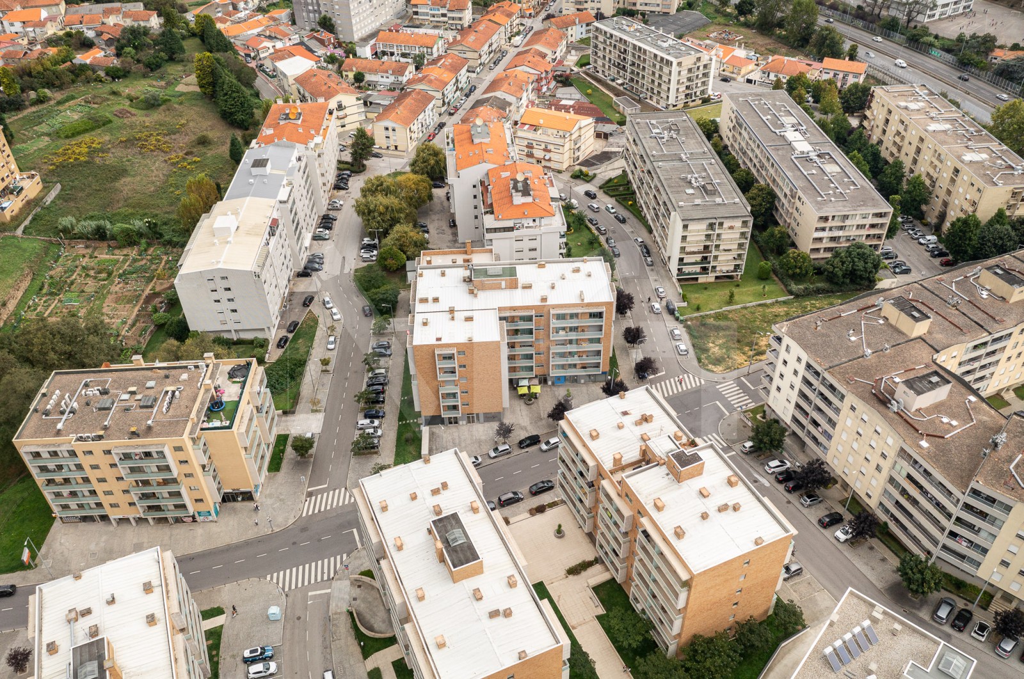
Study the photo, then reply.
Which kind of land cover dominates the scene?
buildings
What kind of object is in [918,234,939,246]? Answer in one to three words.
vehicle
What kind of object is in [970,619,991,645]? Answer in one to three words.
car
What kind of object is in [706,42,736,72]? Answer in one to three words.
house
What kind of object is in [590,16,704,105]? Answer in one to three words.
building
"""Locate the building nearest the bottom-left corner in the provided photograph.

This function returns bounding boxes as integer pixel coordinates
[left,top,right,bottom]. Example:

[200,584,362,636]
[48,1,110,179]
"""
[21,545,210,679]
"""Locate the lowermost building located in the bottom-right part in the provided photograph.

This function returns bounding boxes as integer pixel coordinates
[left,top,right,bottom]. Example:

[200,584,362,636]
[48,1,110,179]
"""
[793,588,976,679]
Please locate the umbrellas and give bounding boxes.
[531,386,541,399]
[518,387,528,400]
[529,379,539,386]
[519,379,529,387]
